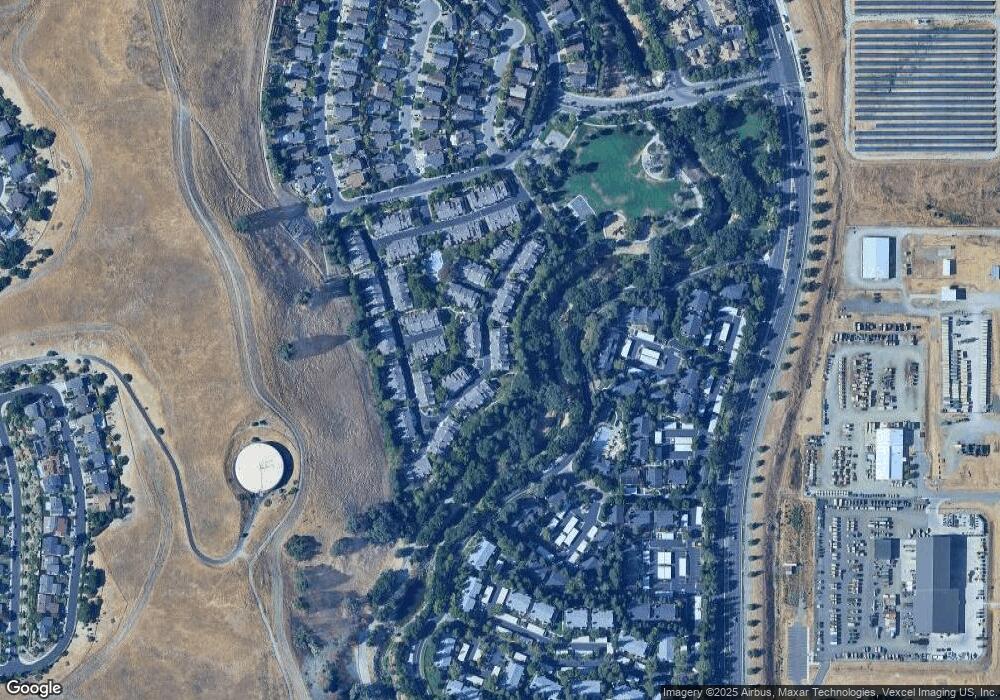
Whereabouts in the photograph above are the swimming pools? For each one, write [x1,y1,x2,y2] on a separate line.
[430,249,443,277]
[593,425,622,460]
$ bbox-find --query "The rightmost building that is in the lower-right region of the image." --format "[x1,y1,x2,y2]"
[916,536,958,634]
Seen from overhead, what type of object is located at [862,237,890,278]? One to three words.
barn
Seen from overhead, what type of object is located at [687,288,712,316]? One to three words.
building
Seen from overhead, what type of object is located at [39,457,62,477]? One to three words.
house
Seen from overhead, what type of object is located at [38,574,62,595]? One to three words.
house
